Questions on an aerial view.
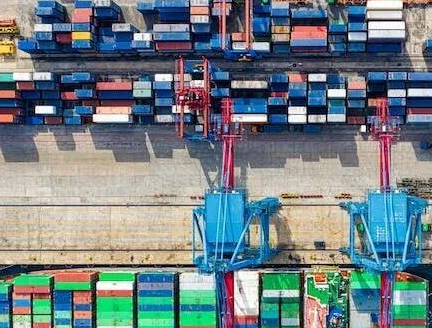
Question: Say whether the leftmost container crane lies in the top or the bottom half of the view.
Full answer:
You can find the leftmost container crane in the top half.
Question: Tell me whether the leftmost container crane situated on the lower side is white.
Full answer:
No, the leftmost container crane situated on the lower side is blue.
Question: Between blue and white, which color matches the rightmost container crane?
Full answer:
The color of the rightmost container crane is blue.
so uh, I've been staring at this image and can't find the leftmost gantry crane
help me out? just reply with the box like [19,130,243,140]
[178,55,228,140]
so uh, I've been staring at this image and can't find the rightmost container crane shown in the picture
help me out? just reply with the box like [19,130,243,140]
[336,99,428,328]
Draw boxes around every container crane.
[178,55,228,140]
[218,0,266,60]
[187,99,284,328]
[336,99,428,328]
